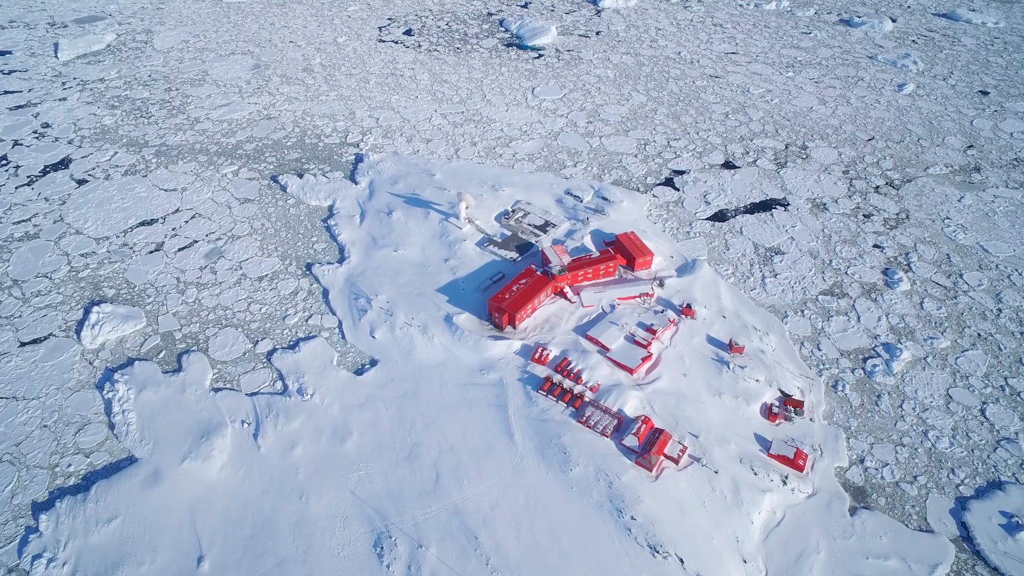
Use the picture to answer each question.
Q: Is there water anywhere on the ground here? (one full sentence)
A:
Yes, there's water in this view.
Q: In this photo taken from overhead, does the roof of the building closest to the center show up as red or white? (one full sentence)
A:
From above, the roof of the building closest to the center appears red.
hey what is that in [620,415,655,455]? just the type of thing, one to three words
building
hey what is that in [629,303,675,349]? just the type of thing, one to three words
building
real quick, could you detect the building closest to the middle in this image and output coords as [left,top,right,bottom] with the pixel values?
[486,265,553,333]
